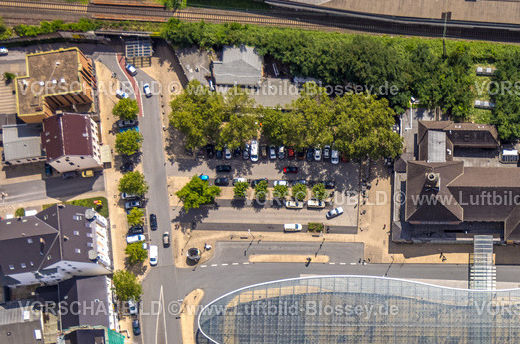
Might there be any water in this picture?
No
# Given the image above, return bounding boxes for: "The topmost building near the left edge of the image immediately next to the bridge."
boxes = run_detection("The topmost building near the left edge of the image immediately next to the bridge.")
[15,48,102,131]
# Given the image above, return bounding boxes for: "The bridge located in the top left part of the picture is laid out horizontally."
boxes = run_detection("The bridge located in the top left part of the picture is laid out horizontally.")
[91,0,161,33]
